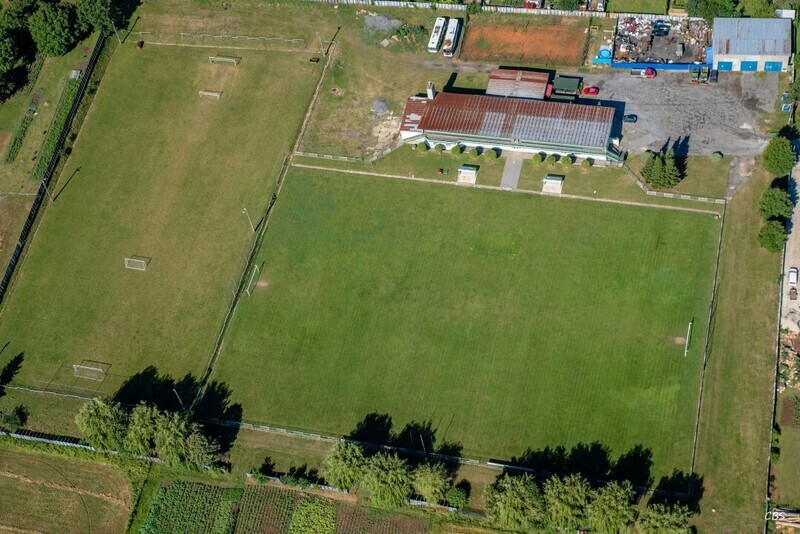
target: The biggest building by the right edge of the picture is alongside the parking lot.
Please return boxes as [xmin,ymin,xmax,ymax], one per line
[713,18,791,72]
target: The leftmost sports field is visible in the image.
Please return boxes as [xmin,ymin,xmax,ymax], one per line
[0,41,317,410]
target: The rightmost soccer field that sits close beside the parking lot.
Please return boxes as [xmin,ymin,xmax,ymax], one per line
[192,152,722,493]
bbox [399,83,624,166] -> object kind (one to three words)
building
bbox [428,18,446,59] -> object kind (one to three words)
vehicle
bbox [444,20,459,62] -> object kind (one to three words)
vehicle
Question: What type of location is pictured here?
sports ground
